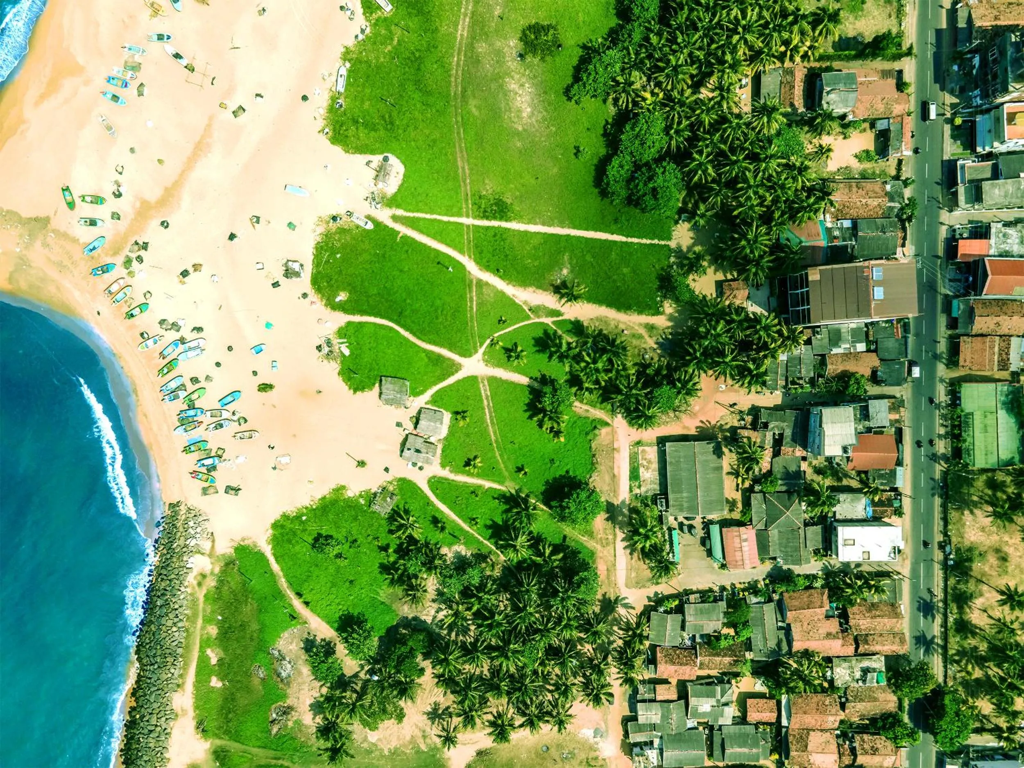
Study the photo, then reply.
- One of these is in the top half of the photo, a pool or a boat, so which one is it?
boat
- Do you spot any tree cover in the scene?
Yes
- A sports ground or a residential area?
residential area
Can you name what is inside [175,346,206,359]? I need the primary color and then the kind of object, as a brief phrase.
white boat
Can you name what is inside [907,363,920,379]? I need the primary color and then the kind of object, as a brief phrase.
white vehicle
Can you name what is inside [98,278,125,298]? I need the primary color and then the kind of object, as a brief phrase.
white boat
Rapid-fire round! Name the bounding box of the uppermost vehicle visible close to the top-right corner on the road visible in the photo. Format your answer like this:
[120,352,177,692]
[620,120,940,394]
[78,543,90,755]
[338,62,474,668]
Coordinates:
[923,103,936,123]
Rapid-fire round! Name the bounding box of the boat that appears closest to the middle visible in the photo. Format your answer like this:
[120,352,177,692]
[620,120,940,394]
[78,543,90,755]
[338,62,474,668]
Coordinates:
[350,211,373,228]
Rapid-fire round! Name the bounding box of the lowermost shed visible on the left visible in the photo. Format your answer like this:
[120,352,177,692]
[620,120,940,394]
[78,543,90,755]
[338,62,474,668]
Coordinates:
[372,489,396,514]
